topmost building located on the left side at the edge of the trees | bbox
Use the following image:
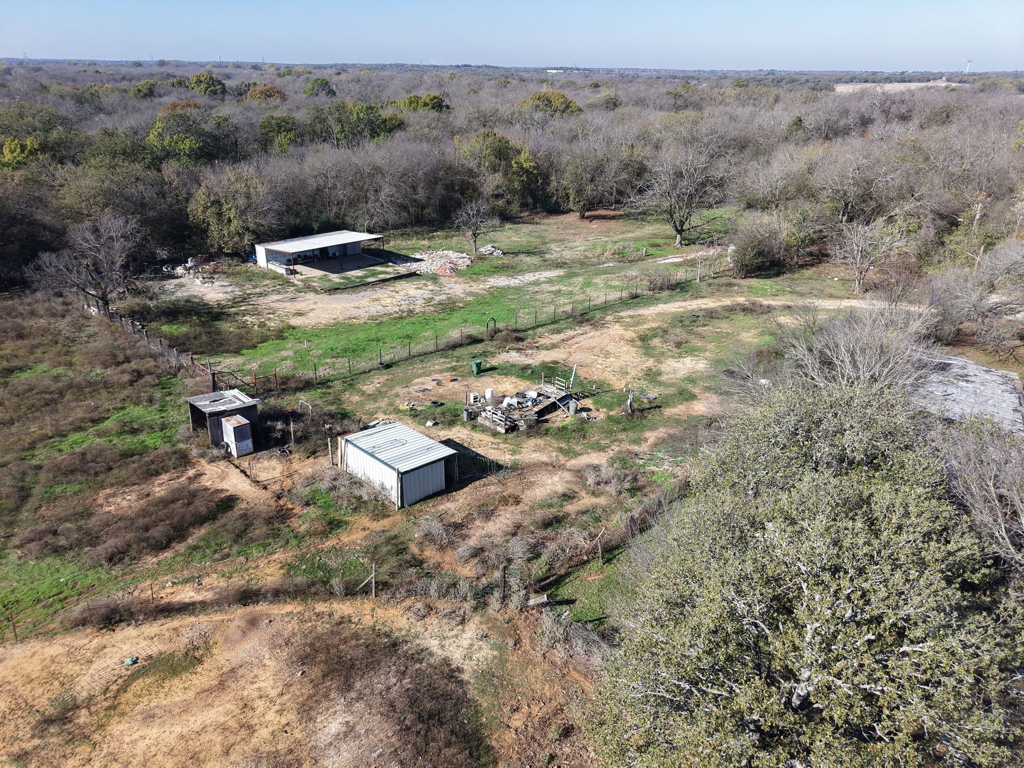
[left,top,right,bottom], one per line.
[258,226,386,279]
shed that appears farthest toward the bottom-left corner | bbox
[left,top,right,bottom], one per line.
[179,385,261,449]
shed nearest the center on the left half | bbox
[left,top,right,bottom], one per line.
[325,416,461,516]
